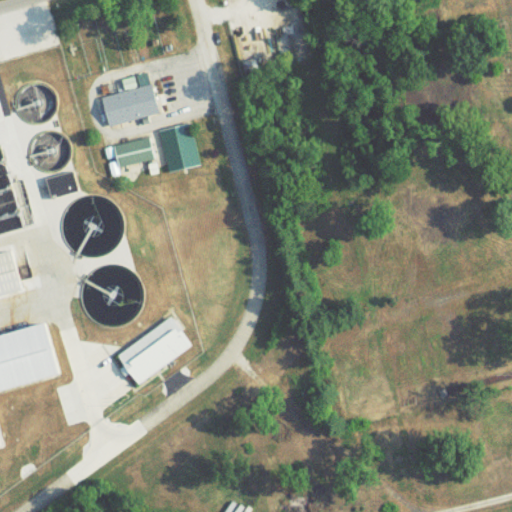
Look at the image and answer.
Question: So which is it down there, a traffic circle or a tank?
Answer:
tank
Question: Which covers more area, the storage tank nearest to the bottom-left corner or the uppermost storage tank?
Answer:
the storage tank nearest to the bottom-left corner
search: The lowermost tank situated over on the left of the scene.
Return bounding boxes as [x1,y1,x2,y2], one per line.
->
[78,264,143,327]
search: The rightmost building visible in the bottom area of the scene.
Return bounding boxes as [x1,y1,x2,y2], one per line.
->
[118,319,192,385]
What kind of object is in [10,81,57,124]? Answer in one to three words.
storage tank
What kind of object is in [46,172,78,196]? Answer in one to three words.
building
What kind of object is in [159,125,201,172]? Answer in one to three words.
barn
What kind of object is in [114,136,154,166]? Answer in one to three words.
shed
